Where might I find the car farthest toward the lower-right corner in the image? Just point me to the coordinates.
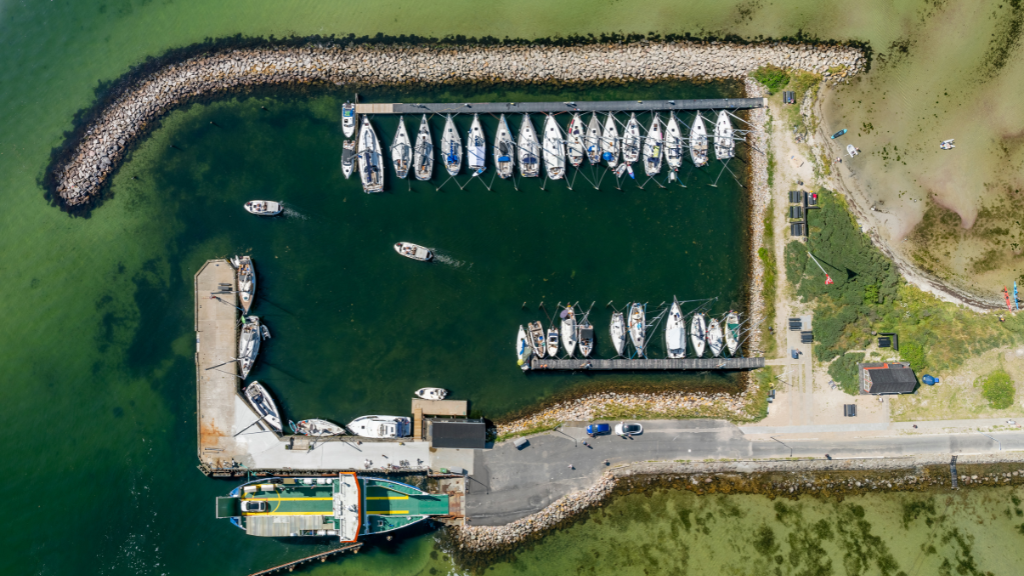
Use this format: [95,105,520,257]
[615,423,643,435]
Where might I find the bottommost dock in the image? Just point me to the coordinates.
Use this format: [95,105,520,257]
[249,543,362,576]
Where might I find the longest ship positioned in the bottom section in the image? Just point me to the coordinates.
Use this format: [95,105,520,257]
[215,467,450,544]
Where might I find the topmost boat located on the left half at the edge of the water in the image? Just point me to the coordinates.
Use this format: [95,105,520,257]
[341,100,355,137]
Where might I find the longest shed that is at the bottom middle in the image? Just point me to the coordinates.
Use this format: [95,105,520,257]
[424,417,487,448]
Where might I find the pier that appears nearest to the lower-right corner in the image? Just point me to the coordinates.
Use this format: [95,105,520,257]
[530,356,763,370]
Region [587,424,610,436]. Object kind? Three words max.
vehicle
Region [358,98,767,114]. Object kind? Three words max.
pier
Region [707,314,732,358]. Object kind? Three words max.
boat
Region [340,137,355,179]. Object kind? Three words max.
boat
